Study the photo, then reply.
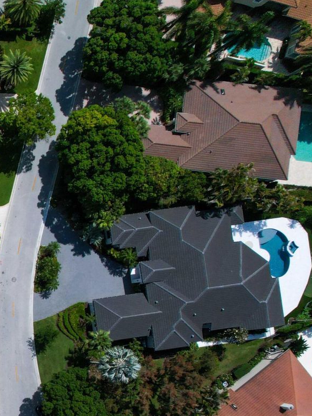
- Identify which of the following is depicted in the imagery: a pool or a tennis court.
pool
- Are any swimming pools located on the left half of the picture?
No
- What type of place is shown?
residential area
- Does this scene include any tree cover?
Yes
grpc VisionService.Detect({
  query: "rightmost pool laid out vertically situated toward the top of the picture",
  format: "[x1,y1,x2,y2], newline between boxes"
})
[293,106,312,163]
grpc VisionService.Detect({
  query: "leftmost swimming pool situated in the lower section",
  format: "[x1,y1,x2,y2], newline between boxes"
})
[257,227,290,278]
